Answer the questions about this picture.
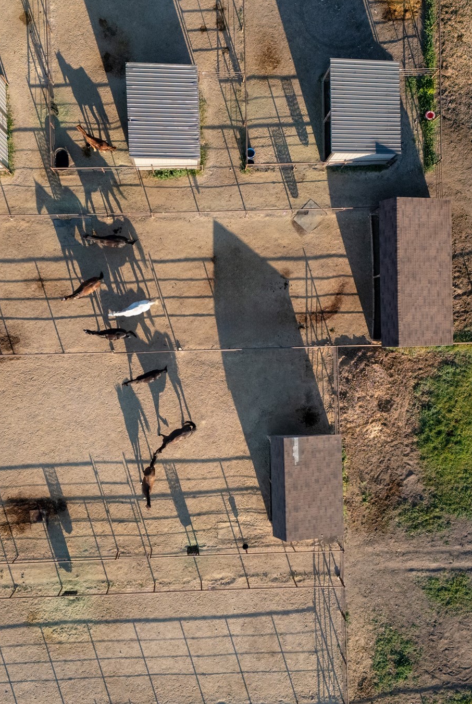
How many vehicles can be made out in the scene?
0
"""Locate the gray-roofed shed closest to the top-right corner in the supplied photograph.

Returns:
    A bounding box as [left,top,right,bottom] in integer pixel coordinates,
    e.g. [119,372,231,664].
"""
[323,57,401,162]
